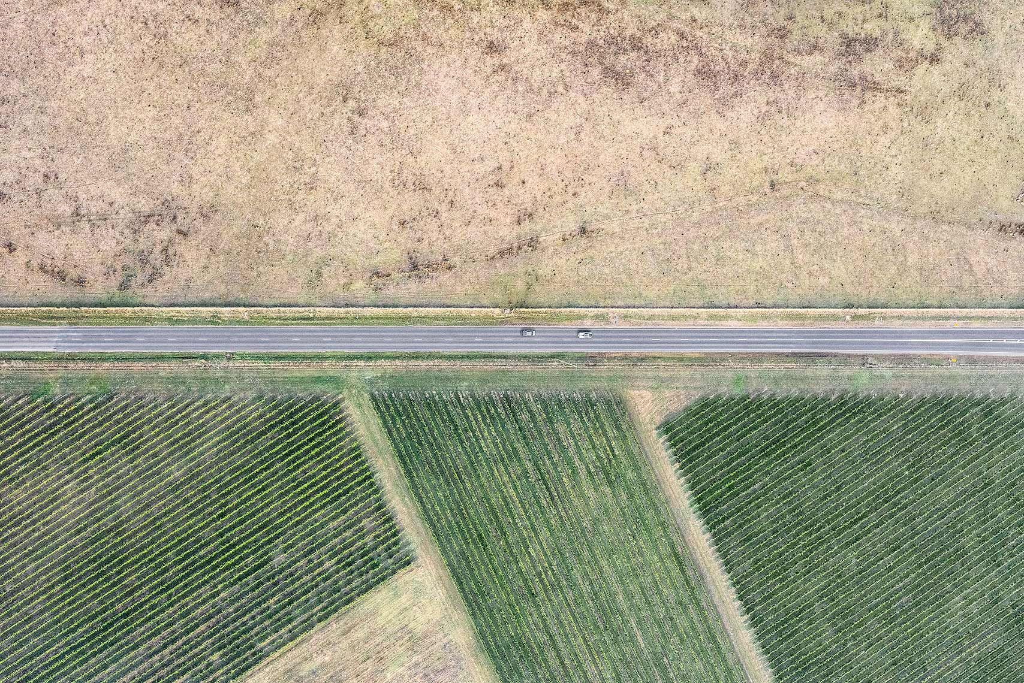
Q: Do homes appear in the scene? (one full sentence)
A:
No, no home is visible in the view.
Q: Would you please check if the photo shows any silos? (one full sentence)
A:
No, no silo is visible in the scene.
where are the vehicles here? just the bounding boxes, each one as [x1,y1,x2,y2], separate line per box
[578,332,592,338]
[521,330,536,336]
